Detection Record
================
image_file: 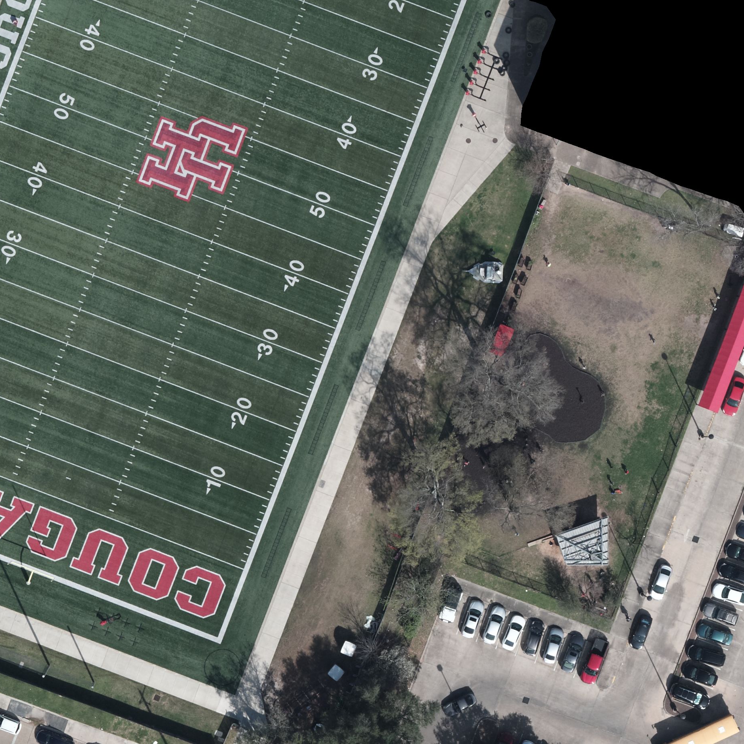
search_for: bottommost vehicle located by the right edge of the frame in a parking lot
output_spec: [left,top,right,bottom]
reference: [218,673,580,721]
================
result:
[662,710,743,744]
